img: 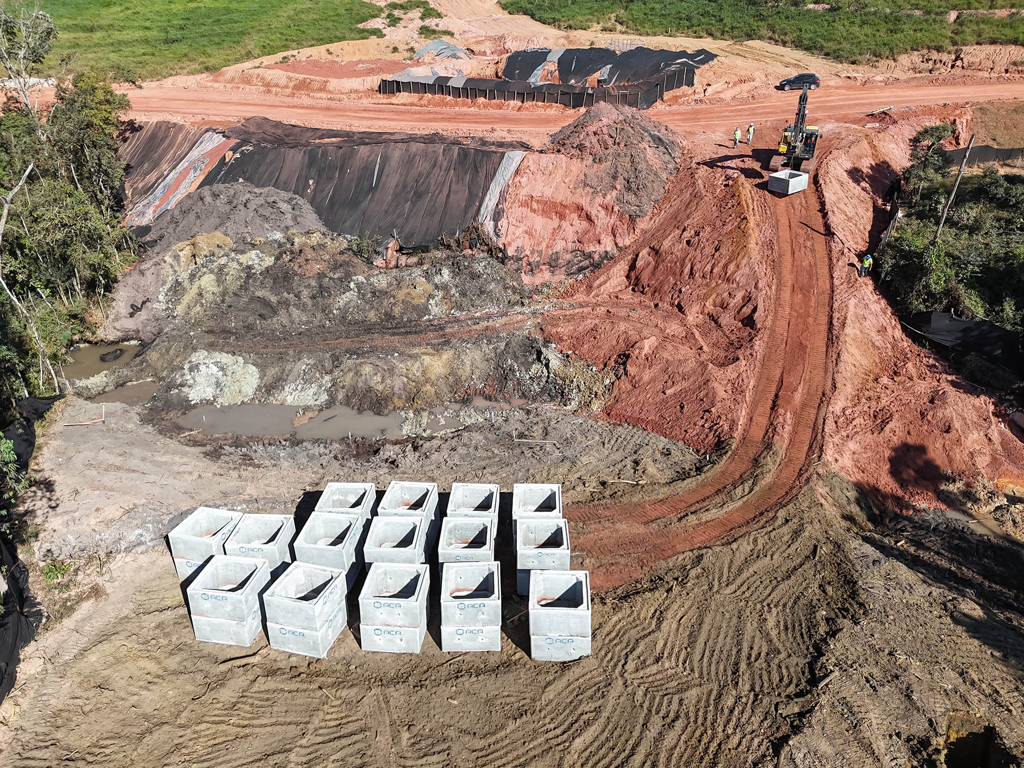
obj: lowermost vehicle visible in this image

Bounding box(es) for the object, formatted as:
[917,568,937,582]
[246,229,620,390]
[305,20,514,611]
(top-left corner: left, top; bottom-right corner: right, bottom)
[767,80,826,171]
